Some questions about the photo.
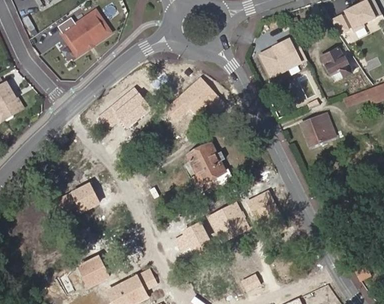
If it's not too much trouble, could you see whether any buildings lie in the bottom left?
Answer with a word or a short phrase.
Yes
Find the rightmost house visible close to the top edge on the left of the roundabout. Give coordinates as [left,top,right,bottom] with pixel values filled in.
[58,9,113,58]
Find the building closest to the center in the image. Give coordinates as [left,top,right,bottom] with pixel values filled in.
[186,143,227,185]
